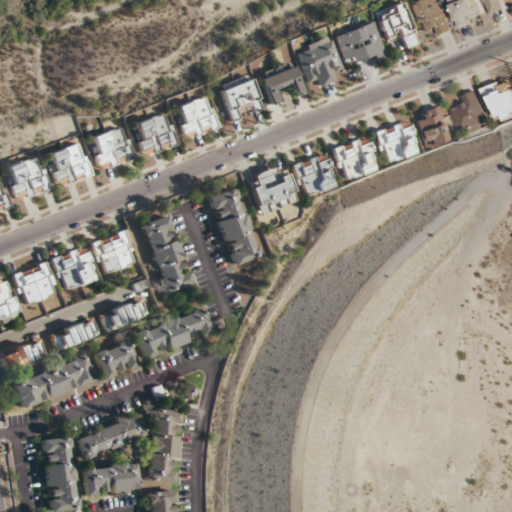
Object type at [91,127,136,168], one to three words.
house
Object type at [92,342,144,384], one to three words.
building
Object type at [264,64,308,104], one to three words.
house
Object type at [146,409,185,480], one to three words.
building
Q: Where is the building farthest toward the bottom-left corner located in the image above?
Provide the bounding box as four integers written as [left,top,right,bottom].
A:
[40,436,80,512]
